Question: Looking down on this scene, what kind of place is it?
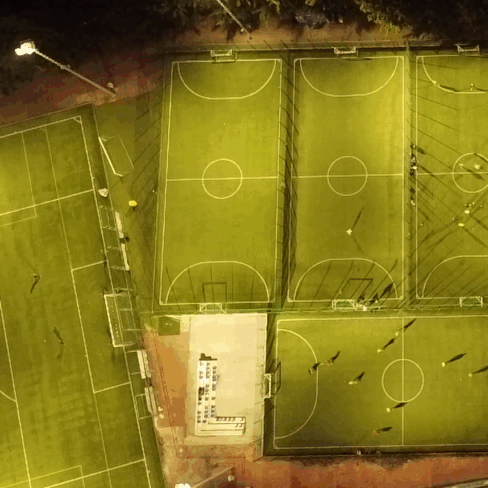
sports ground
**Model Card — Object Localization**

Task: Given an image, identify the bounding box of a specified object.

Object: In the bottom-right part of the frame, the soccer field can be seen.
[264,309,488,455]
